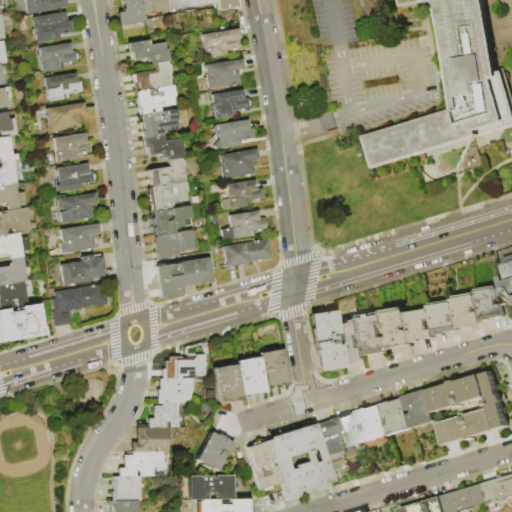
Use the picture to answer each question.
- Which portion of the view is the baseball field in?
bottom left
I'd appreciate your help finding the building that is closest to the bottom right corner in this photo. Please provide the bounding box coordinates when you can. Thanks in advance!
[479,474,512,504]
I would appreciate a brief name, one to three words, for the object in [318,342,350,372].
building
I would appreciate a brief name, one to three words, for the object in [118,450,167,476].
house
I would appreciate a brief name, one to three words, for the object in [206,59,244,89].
house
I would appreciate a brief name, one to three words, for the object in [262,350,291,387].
building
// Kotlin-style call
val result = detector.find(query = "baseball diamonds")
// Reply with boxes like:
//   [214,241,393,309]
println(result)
[0,414,50,478]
